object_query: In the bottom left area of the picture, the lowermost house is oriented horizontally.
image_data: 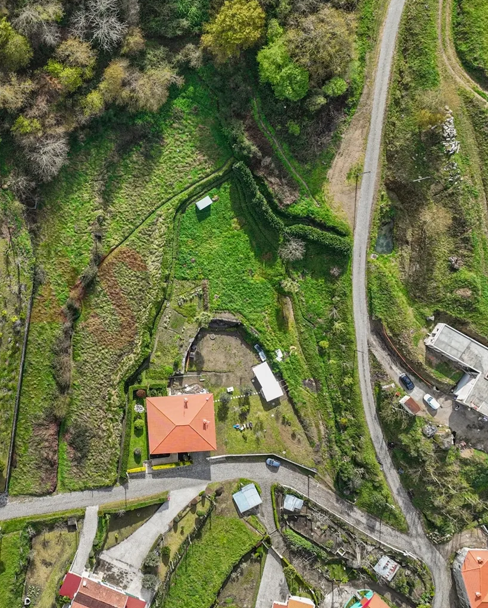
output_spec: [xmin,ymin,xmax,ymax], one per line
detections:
[59,569,146,608]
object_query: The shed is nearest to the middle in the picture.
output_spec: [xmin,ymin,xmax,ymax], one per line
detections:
[251,362,287,401]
